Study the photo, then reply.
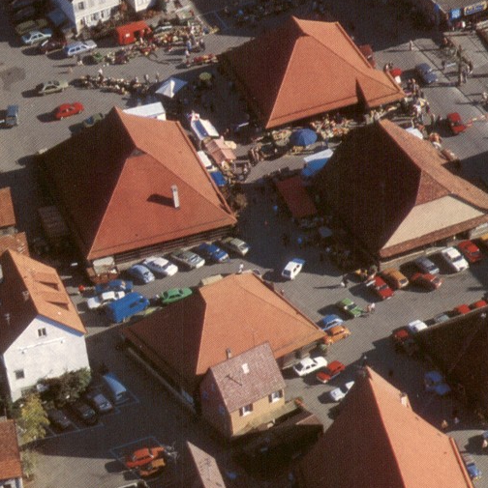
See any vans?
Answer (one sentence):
Yes, I can see a van in this picture.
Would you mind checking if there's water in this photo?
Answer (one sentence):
No, water can't be seen anywhere here.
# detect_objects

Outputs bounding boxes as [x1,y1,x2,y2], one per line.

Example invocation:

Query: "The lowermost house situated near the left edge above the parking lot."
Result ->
[0,248,88,398]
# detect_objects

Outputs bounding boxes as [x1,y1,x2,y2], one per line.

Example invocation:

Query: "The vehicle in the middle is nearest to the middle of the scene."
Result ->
[217,231,253,258]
